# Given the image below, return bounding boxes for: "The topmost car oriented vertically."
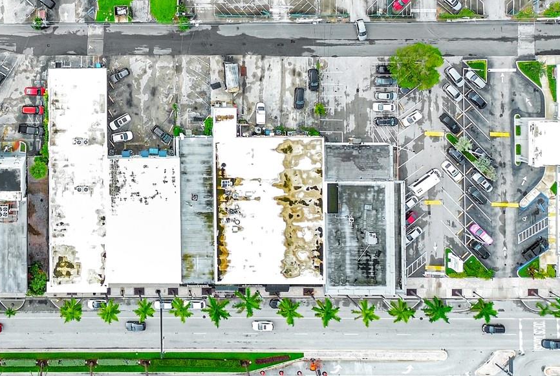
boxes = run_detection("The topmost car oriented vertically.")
[354,18,366,41]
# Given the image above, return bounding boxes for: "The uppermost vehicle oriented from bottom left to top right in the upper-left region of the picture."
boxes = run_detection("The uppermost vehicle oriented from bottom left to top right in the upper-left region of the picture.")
[108,67,131,85]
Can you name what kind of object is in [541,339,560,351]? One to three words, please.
vehicle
